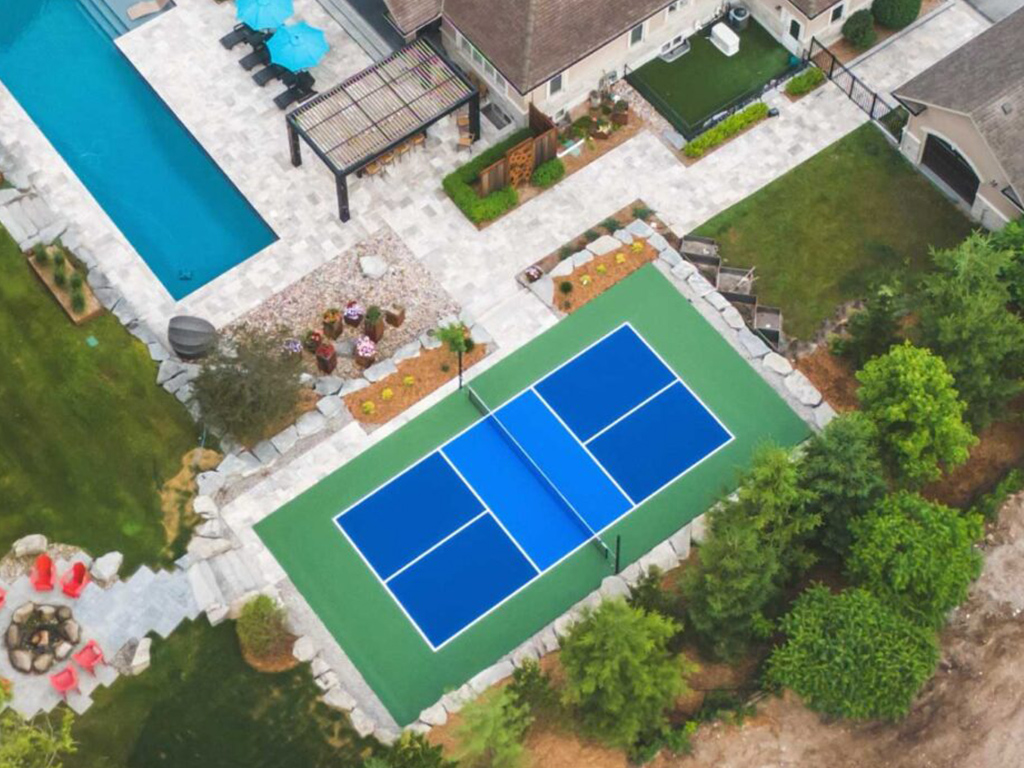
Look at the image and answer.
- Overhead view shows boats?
No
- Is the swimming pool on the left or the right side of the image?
left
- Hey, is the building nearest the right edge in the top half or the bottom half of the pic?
top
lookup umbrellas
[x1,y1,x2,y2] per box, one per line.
[261,19,328,80]
[228,0,294,49]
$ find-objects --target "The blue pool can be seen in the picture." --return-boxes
[0,0,289,309]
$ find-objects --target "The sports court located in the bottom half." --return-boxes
[254,264,810,727]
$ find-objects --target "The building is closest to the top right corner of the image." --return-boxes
[880,5,1024,237]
